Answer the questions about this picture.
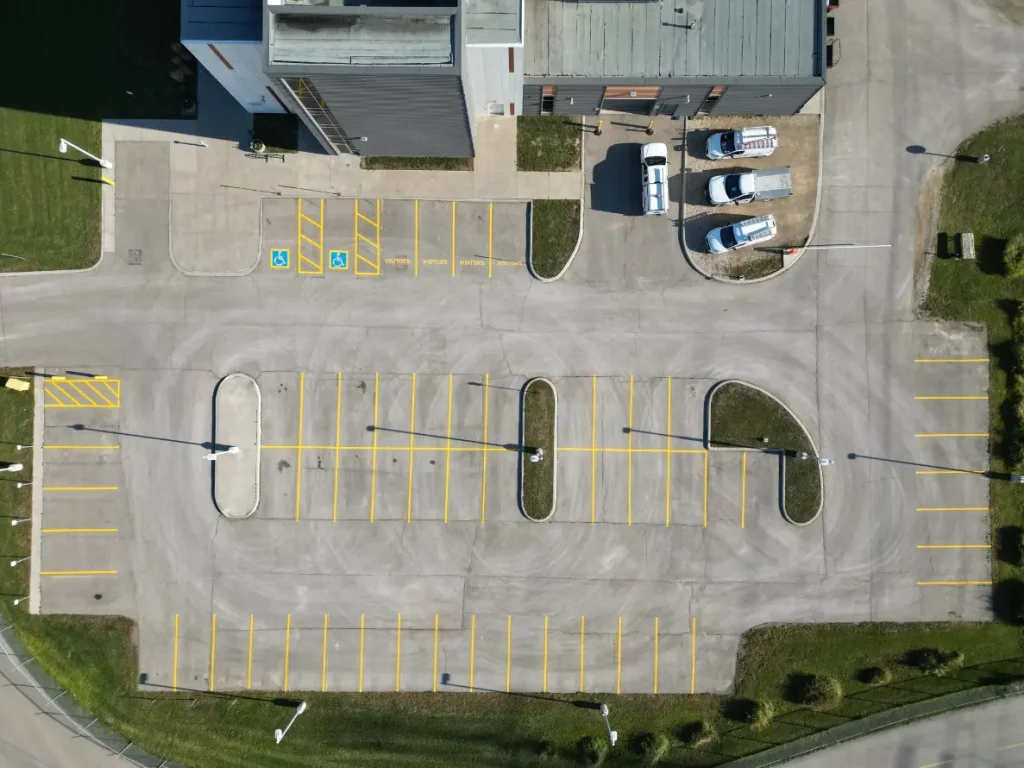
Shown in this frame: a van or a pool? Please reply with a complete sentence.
This aerial view contains a van.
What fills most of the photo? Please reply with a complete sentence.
For the most part, this view shows paved ground.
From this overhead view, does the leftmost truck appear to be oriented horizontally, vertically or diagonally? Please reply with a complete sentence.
Seen from above, the leftmost truck lies vertically.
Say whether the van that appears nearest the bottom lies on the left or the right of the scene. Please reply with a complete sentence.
It is on the right.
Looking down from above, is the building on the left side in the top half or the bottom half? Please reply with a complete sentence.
It is in the top half that the building on the left side appears.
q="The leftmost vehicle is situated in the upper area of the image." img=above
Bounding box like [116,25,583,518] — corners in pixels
[640,141,672,216]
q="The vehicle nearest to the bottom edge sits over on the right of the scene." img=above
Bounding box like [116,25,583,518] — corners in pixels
[704,213,776,255]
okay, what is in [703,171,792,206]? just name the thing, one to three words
truck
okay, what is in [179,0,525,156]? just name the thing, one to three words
building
